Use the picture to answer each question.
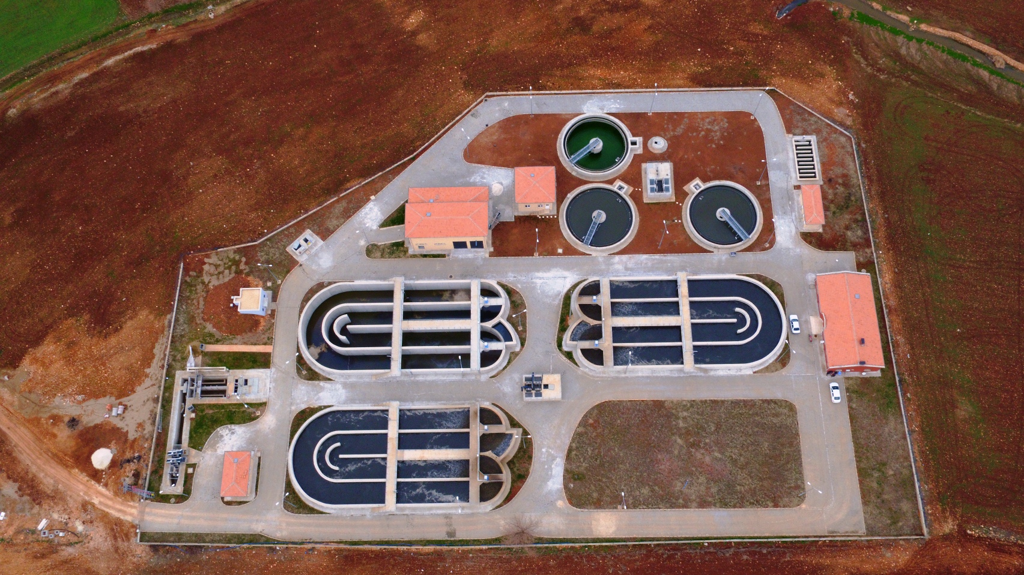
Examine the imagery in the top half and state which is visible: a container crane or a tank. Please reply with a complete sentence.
Visible in the top half is a tank.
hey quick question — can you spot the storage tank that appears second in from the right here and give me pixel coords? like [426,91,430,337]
[682,176,763,254]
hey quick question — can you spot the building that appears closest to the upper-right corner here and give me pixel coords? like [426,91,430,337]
[793,184,828,232]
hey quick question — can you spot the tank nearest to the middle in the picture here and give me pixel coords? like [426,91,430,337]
[559,178,639,256]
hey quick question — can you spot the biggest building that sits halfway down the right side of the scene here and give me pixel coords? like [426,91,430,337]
[807,272,885,378]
